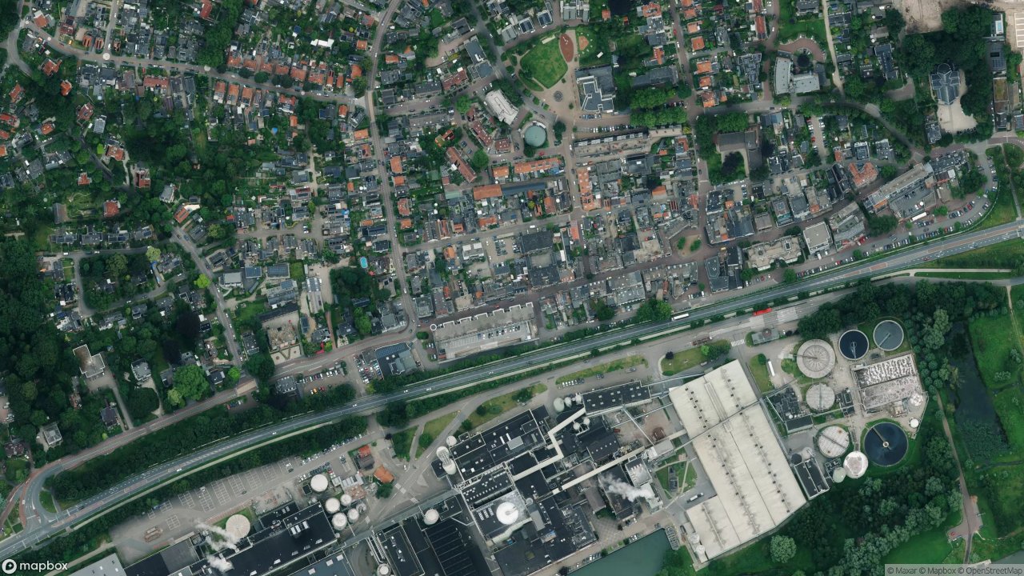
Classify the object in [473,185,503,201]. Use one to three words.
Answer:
house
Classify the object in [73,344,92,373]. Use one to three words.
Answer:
house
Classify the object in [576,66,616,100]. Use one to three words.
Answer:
building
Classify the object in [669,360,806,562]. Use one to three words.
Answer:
warehouse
